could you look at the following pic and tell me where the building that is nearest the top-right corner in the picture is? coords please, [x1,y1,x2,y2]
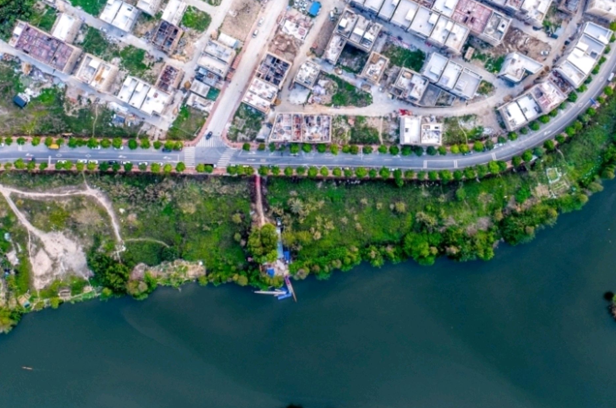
[583,0,616,20]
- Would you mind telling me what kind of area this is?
residential area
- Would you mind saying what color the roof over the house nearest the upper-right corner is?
white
